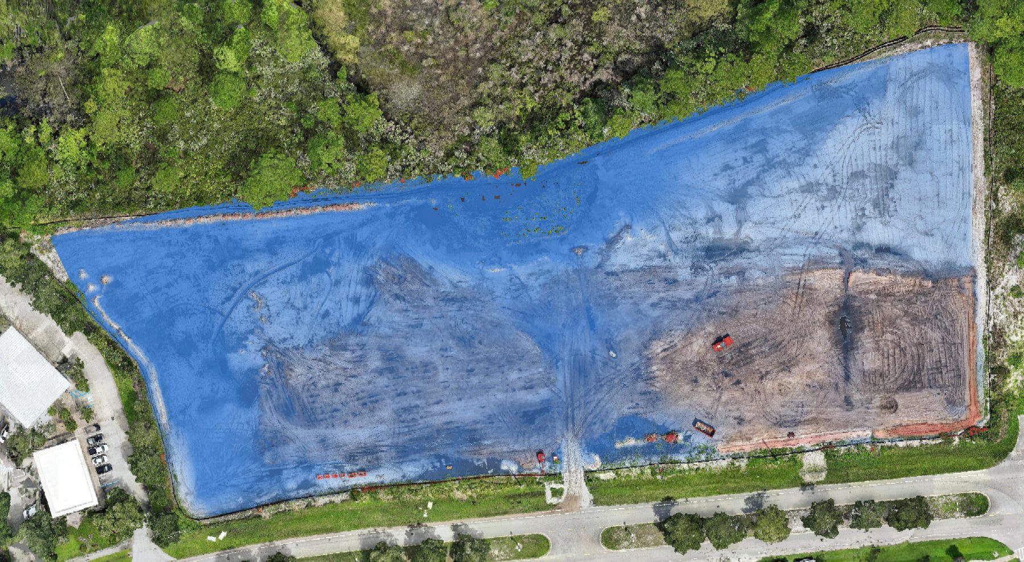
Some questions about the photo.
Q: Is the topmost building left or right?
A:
left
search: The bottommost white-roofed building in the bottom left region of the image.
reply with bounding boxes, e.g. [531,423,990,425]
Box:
[33,439,99,518]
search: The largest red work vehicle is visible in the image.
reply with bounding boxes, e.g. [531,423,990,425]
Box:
[711,336,734,352]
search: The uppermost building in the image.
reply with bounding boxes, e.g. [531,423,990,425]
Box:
[0,325,70,428]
